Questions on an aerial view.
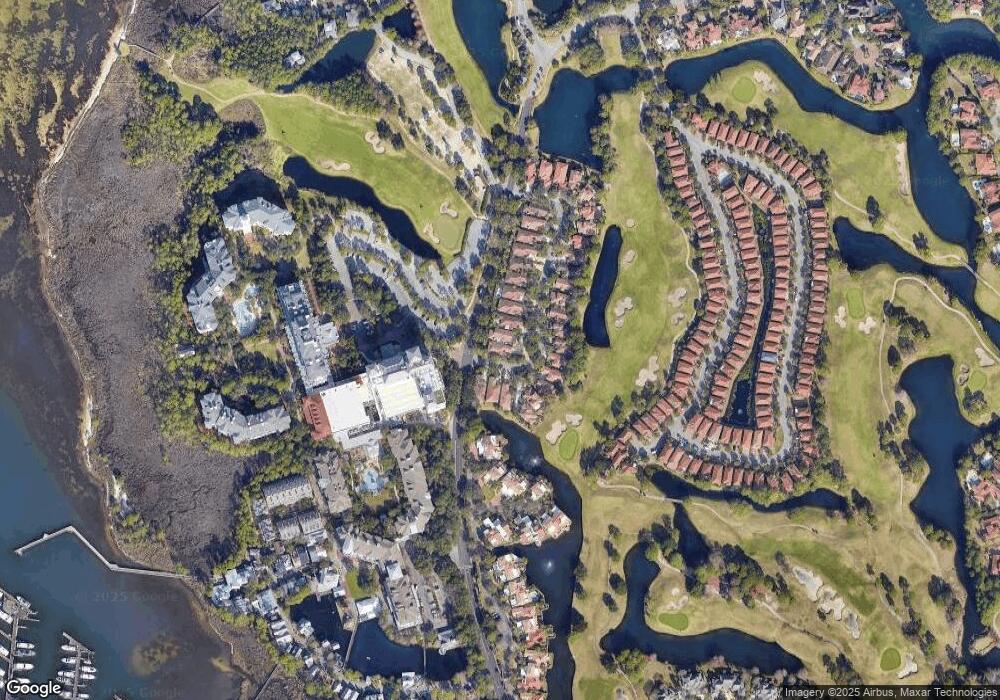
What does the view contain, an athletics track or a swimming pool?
swimming pool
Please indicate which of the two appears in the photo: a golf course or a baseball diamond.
golf course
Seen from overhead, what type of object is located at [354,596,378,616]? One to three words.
house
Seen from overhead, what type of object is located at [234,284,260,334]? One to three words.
swimming pool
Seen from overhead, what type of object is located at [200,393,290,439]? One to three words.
building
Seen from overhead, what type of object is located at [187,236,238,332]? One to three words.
building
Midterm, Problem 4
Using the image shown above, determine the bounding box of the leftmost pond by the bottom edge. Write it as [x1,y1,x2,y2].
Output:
[292,595,470,680]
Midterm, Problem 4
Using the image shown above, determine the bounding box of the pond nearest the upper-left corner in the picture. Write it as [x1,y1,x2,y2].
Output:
[277,28,376,94]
